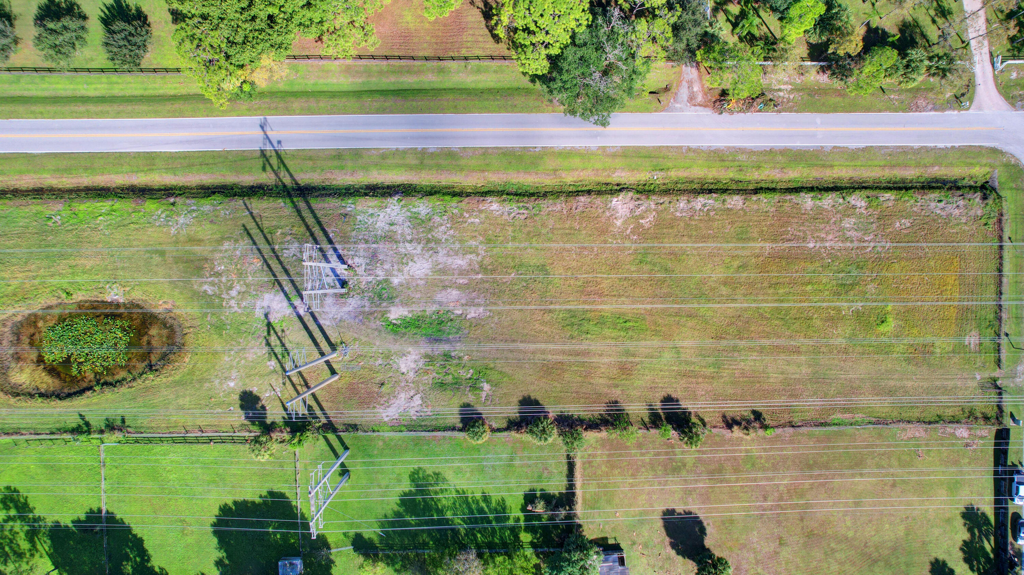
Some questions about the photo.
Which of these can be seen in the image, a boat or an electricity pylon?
electricity pylon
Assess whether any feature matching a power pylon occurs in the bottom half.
Yes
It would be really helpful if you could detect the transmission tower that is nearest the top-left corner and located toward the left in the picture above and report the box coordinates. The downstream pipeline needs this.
[302,244,349,313]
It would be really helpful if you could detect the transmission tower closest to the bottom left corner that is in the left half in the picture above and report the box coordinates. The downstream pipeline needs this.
[308,449,350,539]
